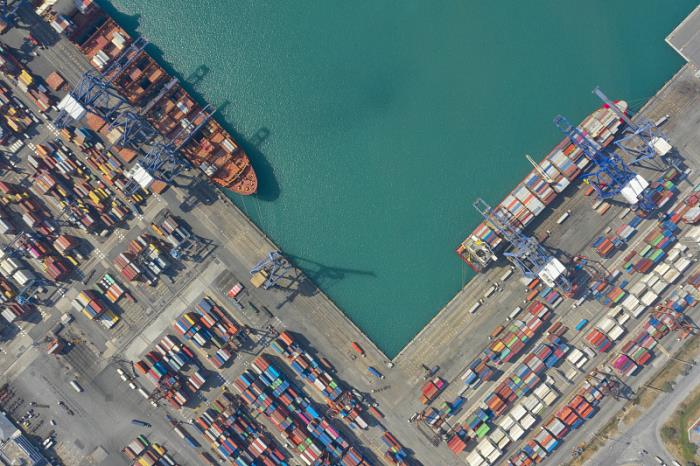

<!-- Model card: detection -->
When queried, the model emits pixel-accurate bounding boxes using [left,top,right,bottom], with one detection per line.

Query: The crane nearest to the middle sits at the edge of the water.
[239,244,296,299]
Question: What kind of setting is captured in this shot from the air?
port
